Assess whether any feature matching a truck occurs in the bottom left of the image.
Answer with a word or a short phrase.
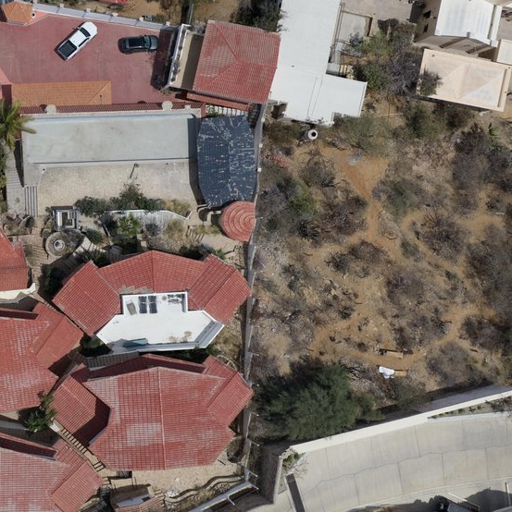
No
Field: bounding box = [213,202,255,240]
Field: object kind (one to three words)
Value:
gazebo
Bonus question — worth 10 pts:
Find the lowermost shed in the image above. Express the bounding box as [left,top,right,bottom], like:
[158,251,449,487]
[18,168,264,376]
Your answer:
[109,488,165,512]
